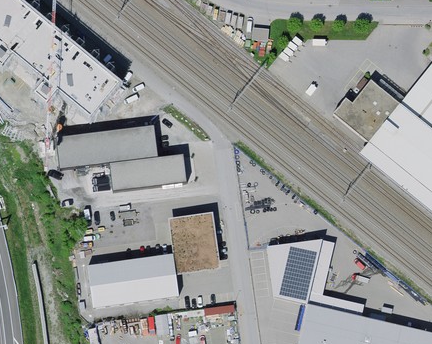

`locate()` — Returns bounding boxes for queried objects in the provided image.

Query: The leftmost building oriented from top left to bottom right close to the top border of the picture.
[0,0,122,114]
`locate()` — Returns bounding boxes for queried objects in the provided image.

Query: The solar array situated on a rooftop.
[280,248,316,300]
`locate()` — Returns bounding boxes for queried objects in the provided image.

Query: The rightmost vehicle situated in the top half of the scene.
[354,77,370,94]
